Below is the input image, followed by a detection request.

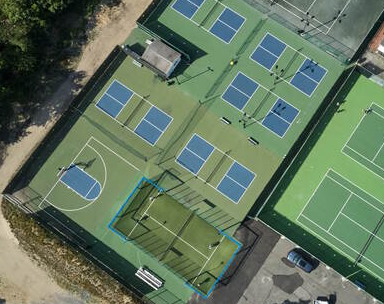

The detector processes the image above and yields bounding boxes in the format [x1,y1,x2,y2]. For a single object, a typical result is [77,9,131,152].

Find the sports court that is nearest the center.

[175,134,257,204]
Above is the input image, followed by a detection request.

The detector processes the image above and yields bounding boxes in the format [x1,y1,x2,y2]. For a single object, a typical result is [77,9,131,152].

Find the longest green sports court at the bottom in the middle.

[107,176,242,299]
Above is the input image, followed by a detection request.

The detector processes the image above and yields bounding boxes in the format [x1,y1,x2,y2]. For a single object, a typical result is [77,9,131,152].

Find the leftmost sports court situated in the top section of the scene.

[95,79,173,146]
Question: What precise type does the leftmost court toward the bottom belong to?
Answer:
basketball court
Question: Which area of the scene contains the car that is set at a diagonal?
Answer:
bottom right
